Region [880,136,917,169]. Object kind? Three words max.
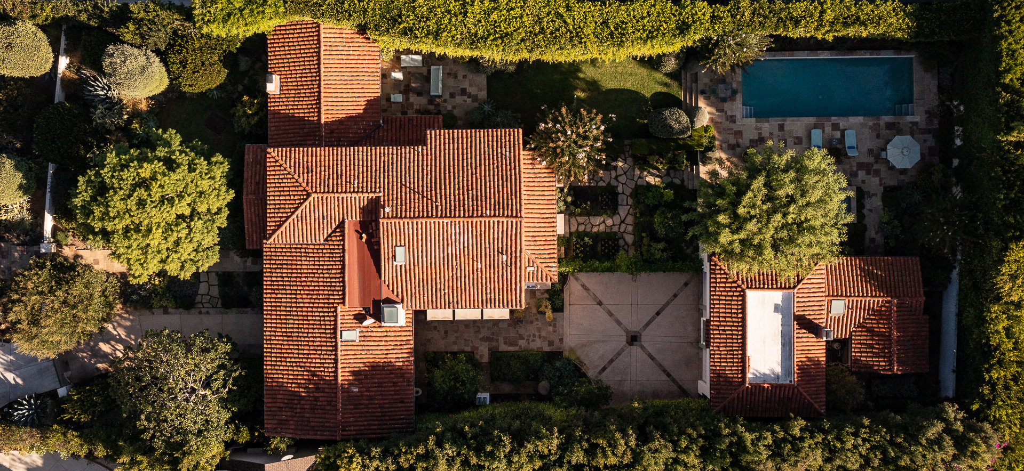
umbrella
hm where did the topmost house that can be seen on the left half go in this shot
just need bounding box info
[243,17,564,442]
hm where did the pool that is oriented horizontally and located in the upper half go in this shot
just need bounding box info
[742,57,913,118]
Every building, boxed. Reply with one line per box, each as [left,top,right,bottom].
[692,251,932,420]
[243,17,564,442]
